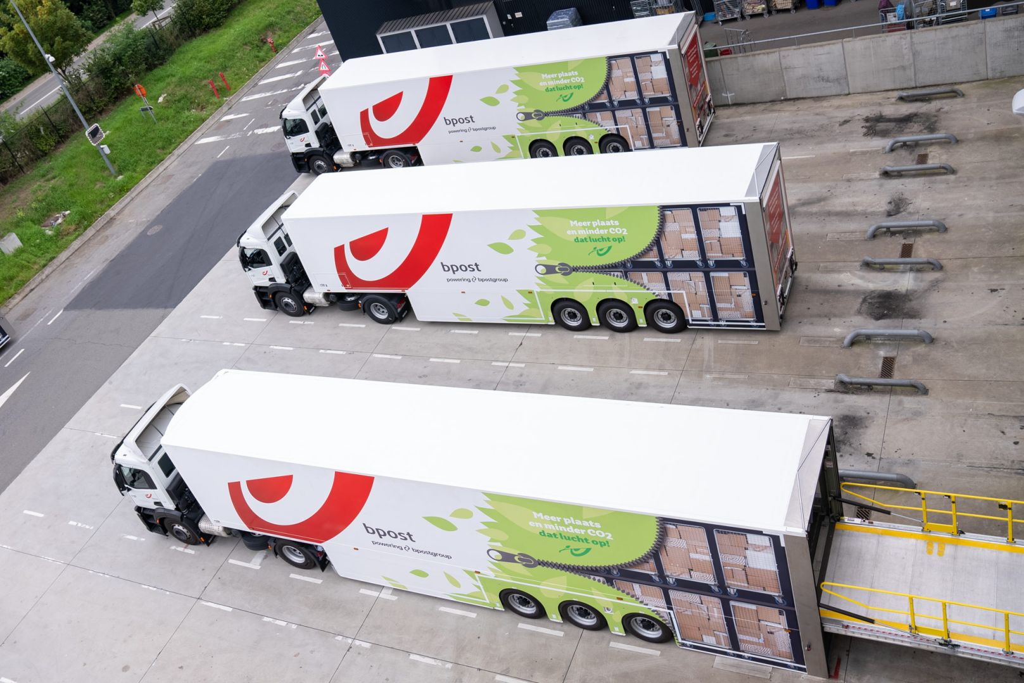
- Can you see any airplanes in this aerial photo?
No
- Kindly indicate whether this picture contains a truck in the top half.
Yes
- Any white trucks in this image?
Yes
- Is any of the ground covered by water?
No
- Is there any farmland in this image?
No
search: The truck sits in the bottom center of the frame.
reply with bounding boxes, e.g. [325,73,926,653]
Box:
[110,369,1024,683]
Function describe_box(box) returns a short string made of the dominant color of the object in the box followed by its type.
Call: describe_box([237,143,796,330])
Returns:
white truck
